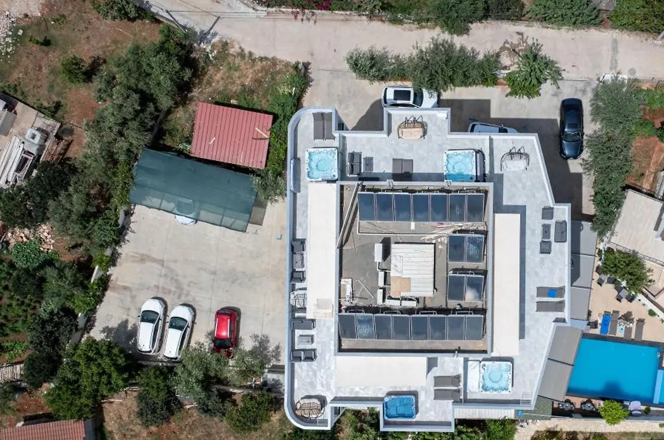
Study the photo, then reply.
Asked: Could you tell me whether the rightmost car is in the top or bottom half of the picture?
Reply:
top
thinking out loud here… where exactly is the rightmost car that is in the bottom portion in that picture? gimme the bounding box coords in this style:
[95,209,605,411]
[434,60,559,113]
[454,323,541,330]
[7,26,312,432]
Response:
[211,307,239,357]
